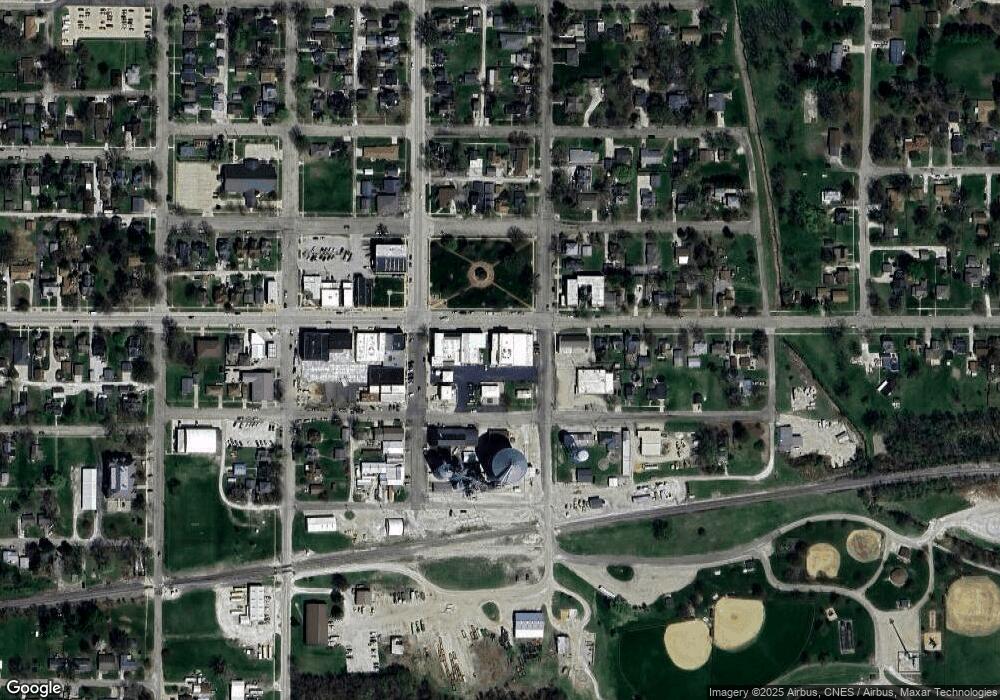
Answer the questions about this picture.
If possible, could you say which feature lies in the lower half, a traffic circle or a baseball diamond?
baseball diamond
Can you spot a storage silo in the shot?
Yes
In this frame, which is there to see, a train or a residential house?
residential house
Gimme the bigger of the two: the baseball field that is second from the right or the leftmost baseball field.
the leftmost baseball field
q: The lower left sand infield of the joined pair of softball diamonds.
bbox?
[664,619,713,670]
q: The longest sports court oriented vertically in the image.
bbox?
[838,619,855,654]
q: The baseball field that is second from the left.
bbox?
[713,597,765,651]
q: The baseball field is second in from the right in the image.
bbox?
[847,528,884,562]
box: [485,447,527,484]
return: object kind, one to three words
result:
silo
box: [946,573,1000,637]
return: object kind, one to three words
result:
baseball field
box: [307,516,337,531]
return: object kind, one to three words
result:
barn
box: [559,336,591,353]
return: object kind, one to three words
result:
building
